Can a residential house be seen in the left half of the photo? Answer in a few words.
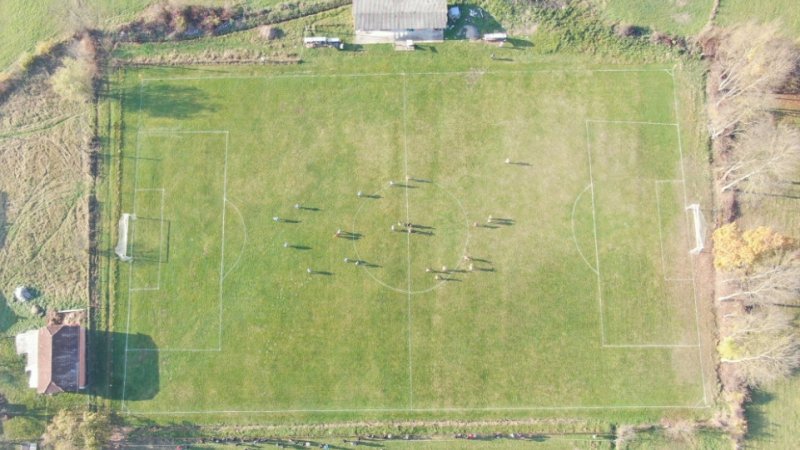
Yes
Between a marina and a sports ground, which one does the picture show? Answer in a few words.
sports ground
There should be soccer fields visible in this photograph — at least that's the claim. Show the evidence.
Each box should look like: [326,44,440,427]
[113,62,714,423]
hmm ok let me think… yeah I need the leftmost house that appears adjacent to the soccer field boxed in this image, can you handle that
[16,325,90,395]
